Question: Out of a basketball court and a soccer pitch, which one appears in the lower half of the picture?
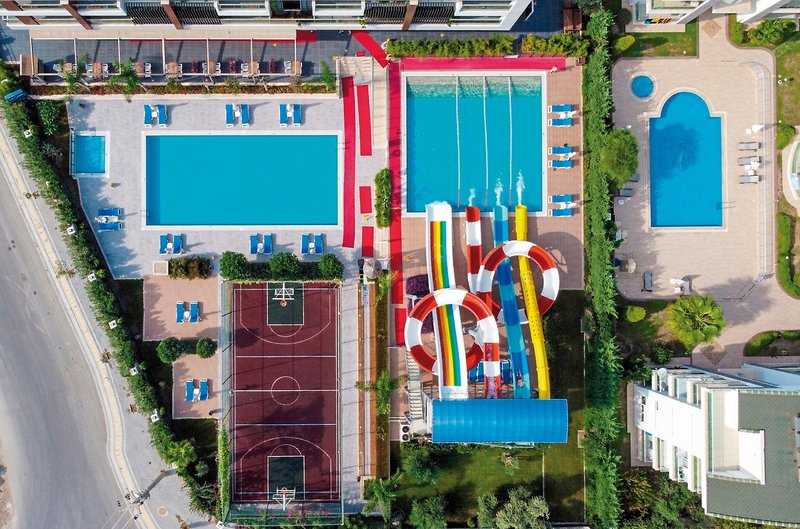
basketball court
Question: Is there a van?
No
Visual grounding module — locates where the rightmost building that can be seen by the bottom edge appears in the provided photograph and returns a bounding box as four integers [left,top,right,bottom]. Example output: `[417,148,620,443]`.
[634,355,800,529]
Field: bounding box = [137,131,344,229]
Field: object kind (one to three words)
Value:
swimming pool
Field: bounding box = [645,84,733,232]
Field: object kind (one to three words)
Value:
swimming pool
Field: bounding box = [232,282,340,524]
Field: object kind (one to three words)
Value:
basketball court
